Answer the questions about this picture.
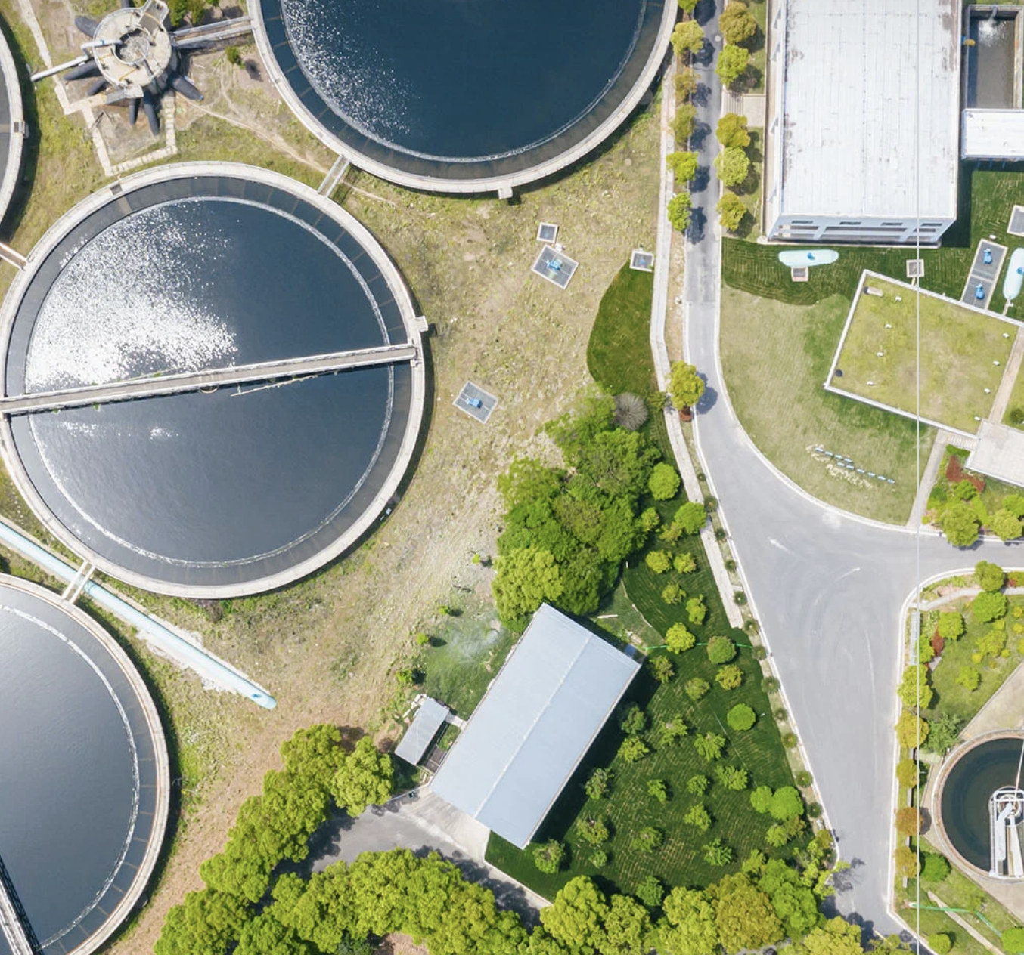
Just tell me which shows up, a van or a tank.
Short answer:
tank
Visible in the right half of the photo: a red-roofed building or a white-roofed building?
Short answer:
white-roofed building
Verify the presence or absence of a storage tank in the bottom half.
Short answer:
Yes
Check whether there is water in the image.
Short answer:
Yes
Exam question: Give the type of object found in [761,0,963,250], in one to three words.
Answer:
building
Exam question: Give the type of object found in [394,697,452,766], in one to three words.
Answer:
shed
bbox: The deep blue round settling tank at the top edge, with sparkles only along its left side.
[248,0,678,204]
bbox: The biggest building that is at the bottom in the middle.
[430,603,642,849]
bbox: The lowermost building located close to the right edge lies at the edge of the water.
[962,420,1024,491]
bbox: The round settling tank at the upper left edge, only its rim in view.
[0,27,35,225]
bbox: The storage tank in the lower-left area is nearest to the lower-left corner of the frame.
[0,574,171,955]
